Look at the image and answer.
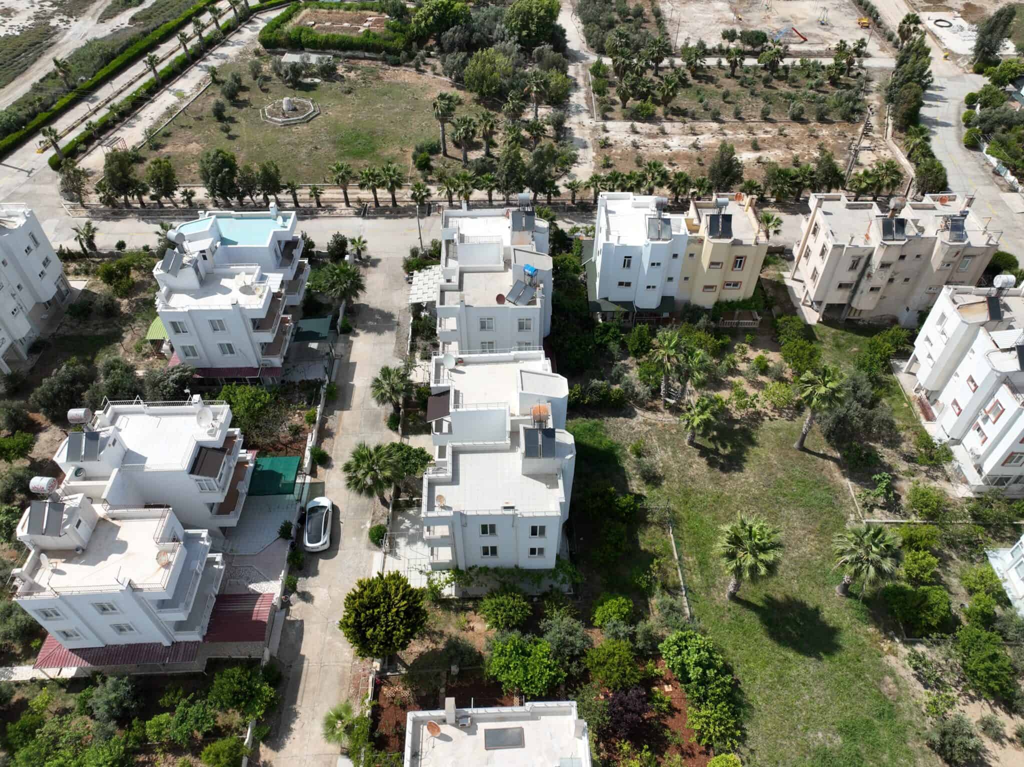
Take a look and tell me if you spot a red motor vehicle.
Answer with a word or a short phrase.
No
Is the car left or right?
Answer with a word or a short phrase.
left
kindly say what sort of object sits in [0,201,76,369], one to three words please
house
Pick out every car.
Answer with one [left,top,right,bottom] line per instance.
[303,497,335,555]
